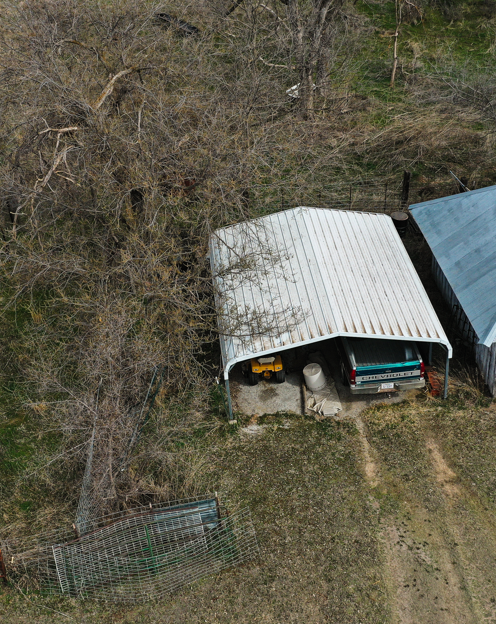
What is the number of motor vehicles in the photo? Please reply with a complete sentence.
There are 2 motor vehicles in the image.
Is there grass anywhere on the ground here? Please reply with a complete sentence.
Yes, some grass is visible.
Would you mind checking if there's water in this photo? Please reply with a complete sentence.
No, the scene doesn't show any water.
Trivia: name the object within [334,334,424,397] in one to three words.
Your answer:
truck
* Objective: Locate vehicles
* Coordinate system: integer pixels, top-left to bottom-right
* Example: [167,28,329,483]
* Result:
[247,354,286,385]
[334,334,424,397]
